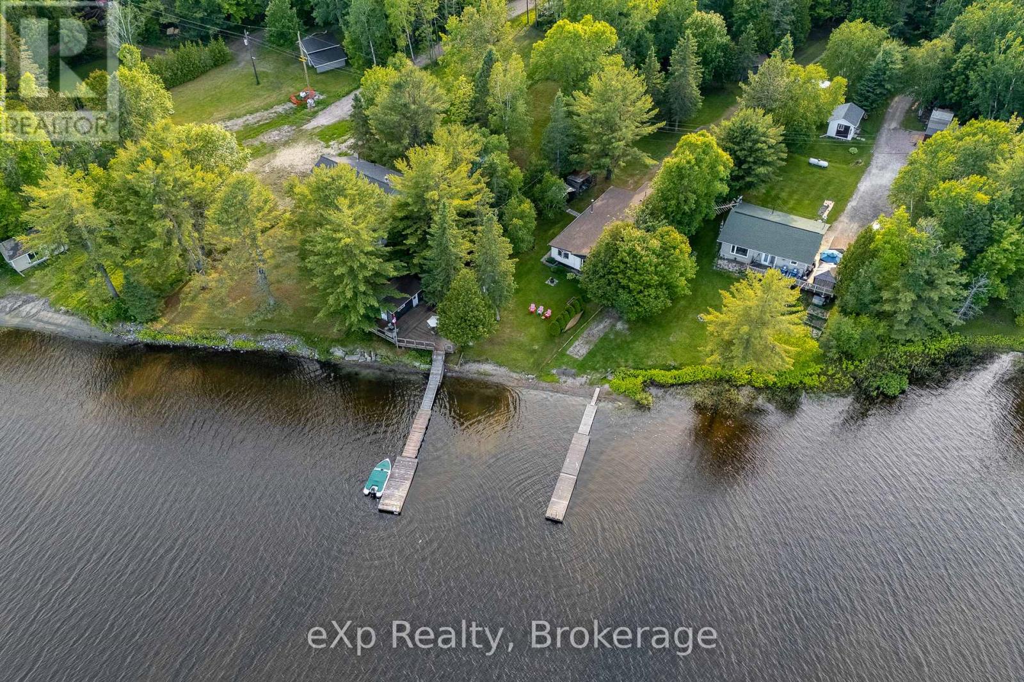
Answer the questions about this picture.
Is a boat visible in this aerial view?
Yes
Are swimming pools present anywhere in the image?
No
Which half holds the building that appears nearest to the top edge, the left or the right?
left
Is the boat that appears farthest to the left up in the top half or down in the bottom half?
bottom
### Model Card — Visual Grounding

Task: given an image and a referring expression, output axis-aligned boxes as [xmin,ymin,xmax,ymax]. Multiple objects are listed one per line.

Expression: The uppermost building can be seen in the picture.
[294,34,347,72]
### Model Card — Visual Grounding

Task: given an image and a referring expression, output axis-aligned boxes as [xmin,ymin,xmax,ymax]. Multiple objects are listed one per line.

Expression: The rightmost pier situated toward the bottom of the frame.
[544,387,600,523]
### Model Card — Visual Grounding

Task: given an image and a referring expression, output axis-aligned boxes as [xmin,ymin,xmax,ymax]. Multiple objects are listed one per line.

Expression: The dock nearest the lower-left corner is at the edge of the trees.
[379,353,446,515]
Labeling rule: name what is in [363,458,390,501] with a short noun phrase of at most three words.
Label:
boat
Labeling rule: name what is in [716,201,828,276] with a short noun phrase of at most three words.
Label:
house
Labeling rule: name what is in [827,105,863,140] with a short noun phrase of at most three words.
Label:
shed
